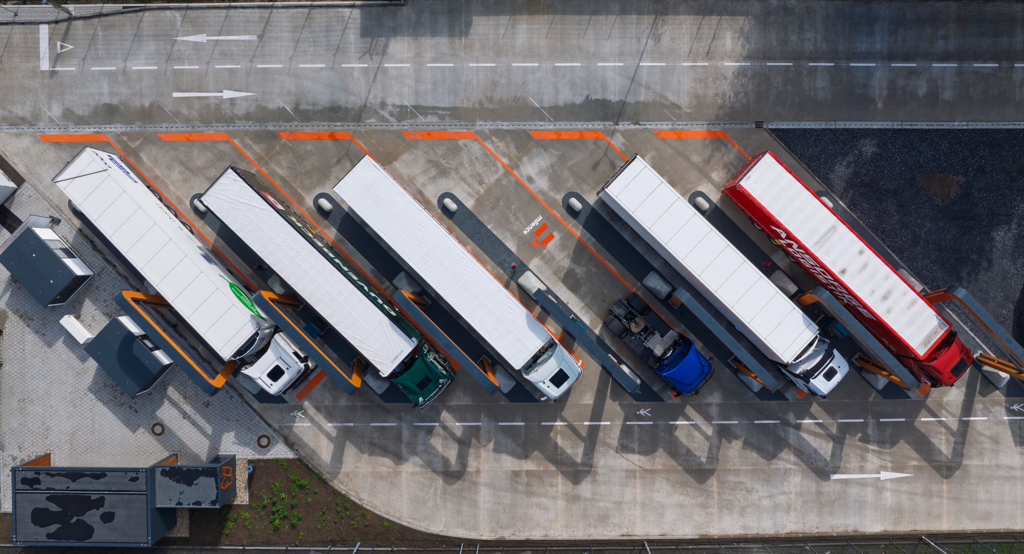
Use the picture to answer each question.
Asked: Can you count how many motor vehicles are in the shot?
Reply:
6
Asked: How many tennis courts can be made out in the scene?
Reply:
0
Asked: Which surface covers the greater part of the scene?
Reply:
paved ground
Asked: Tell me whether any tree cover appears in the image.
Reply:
No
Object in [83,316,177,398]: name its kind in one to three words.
shed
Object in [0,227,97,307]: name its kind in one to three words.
shed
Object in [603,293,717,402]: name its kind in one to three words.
truck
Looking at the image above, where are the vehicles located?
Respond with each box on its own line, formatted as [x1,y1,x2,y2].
[719,150,977,393]
[198,165,456,414]
[333,154,589,407]
[595,156,854,403]
[53,146,318,401]
[603,293,717,402]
